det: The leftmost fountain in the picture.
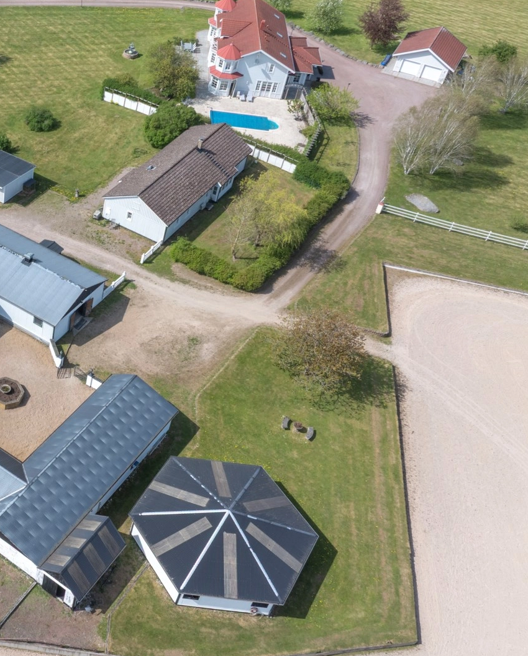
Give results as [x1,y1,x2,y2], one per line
[121,40,140,58]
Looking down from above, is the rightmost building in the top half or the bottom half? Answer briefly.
top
